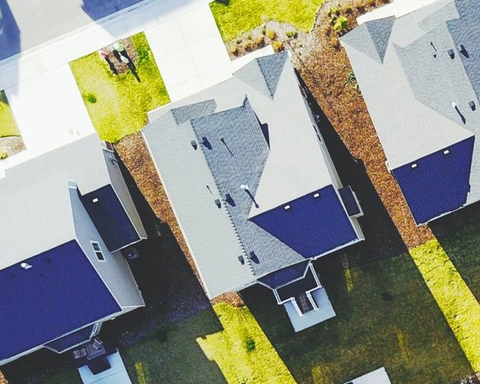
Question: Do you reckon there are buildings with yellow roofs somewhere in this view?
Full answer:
No, this view has no building with a yellow roof in it.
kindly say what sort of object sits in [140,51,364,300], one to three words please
house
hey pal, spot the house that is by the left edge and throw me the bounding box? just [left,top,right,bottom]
[0,129,146,366]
